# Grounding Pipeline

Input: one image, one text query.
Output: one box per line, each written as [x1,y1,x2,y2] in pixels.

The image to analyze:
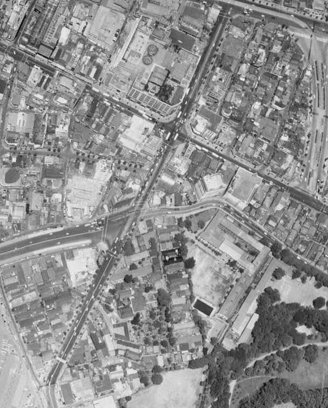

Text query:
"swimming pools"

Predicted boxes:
[192,299,215,317]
